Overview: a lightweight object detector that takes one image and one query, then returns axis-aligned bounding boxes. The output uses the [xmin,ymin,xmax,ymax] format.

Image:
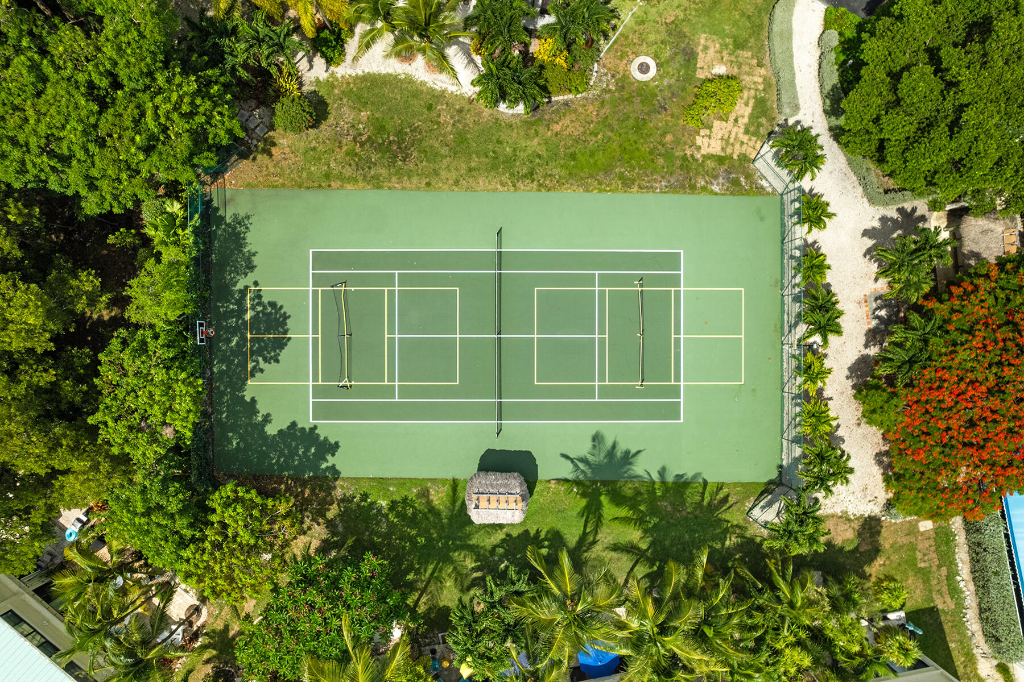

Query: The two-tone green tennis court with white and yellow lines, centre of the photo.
[211,189,785,483]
